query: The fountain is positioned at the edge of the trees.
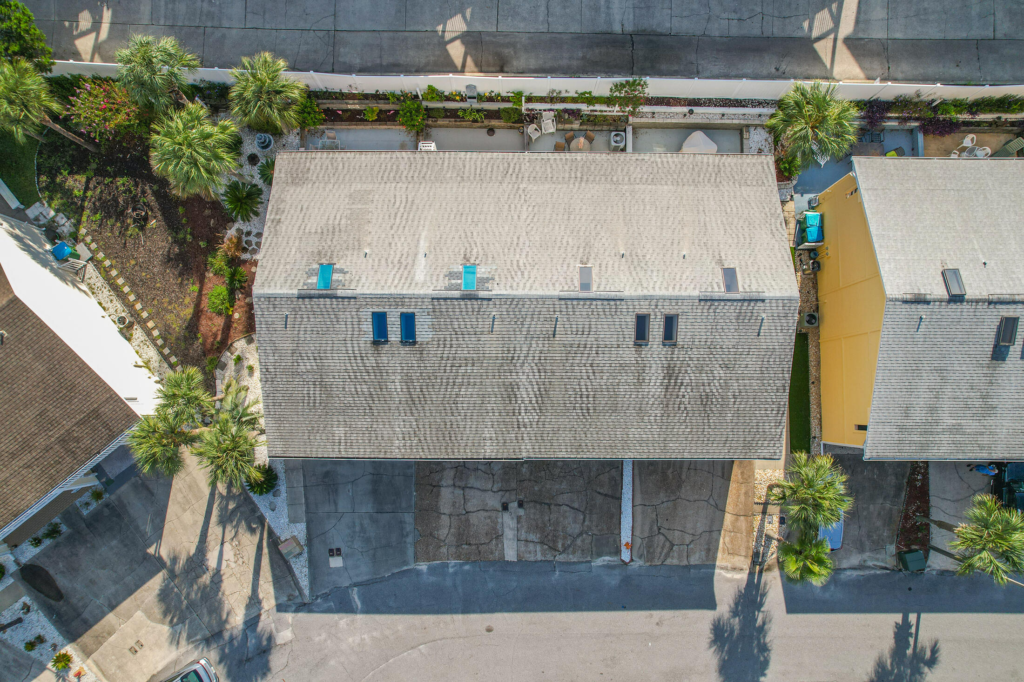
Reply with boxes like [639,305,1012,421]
[253,129,273,149]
